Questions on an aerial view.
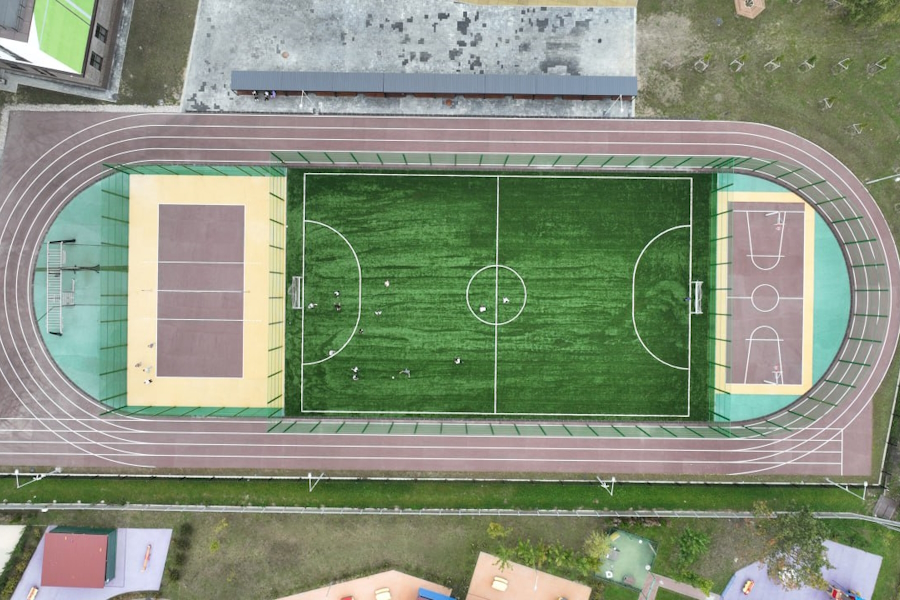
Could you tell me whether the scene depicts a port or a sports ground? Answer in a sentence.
This image shows a sports ground.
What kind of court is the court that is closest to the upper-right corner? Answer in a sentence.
It turns out the court that is closest to the upper-right corner is a basketball court.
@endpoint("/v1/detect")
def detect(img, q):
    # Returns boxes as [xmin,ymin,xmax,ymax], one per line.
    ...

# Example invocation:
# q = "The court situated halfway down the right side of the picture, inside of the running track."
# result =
[715,174,851,422]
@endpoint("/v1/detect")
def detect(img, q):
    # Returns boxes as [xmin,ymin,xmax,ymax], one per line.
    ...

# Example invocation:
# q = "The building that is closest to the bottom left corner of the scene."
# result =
[41,526,117,588]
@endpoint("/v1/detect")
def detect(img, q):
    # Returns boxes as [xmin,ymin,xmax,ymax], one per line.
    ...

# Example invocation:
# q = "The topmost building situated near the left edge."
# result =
[0,0,123,92]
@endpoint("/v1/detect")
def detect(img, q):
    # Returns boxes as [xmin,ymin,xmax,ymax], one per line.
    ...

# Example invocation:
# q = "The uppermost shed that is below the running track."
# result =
[873,495,897,519]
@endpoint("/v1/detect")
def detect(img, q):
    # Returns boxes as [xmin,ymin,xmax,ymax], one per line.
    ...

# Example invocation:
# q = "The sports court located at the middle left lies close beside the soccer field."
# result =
[127,167,287,416]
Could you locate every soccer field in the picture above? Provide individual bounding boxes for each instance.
[284,169,718,422]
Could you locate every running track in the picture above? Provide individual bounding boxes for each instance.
[0,112,900,475]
